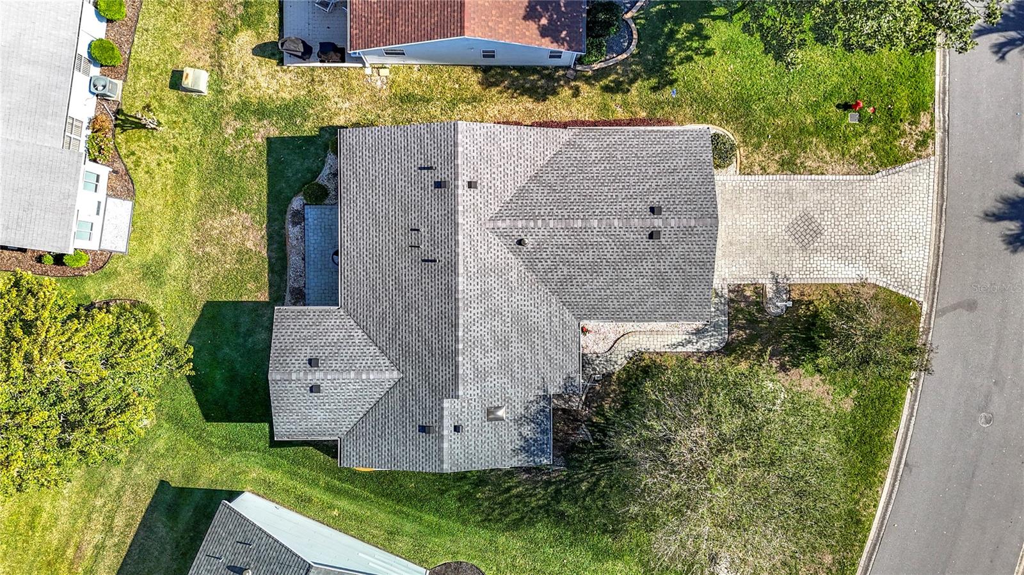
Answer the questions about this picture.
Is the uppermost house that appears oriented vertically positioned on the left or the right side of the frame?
left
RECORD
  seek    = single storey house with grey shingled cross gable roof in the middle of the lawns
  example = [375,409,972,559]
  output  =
[267,120,719,476]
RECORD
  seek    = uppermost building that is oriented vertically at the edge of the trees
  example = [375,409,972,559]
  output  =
[0,0,113,256]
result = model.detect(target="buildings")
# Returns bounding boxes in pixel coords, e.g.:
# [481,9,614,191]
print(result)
[346,0,588,74]
[192,492,430,575]
[0,0,113,256]
[267,120,719,476]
